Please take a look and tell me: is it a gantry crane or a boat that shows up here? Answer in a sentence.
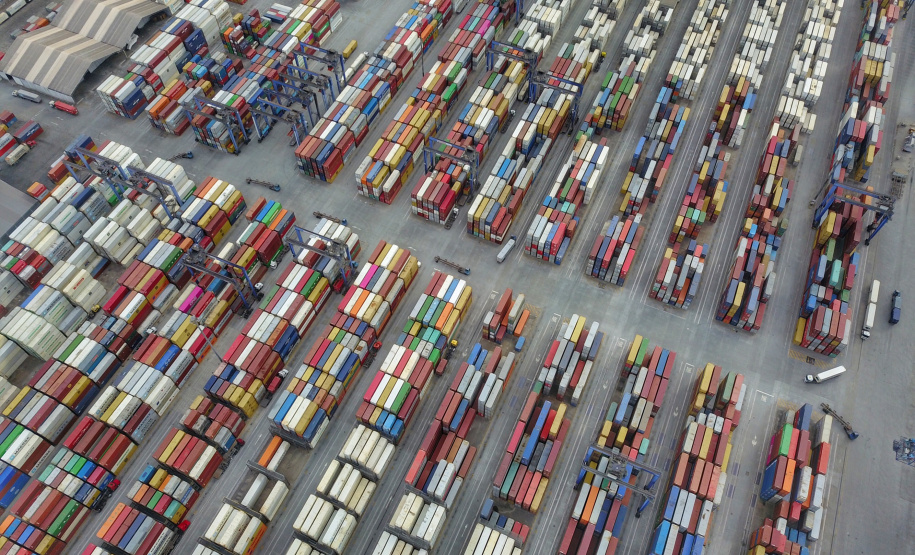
It is a gantry crane that can be seen here.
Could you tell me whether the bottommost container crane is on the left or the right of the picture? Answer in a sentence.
The bottommost container crane sits on the right side.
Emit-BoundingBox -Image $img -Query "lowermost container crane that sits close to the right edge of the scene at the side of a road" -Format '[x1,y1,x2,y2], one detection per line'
[810,178,889,244]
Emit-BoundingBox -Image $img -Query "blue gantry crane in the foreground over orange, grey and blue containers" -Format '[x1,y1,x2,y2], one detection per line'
[572,441,659,521]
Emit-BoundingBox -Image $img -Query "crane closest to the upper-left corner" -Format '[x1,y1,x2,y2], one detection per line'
[58,145,131,205]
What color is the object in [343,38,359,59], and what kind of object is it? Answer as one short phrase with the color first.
yellow vehicle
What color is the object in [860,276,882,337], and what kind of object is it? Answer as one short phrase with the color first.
white truck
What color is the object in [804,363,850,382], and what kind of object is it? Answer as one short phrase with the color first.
white vehicle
